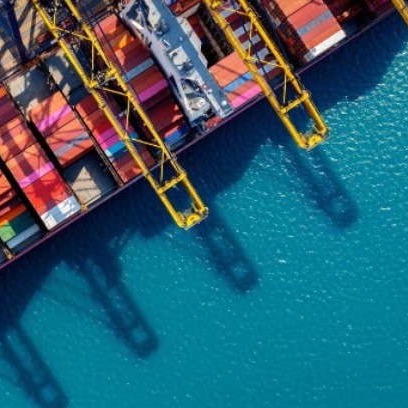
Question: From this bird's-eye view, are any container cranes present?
Yes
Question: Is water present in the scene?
Yes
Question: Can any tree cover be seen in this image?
No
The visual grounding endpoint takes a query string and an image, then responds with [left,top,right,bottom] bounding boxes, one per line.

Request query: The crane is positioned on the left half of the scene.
[0,0,214,232]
